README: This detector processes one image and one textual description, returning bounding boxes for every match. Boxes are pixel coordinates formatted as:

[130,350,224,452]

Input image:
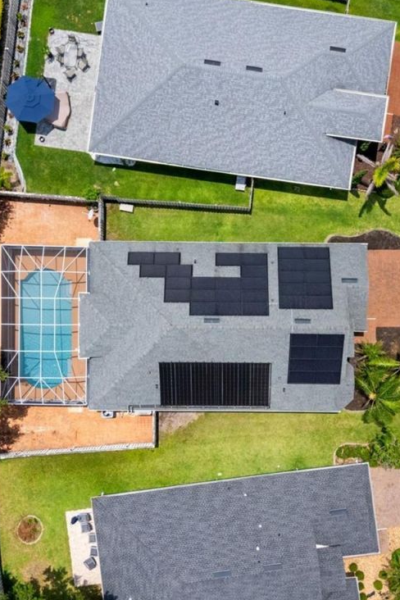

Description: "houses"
[88,0,397,190]
[91,462,379,600]
[80,241,368,412]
